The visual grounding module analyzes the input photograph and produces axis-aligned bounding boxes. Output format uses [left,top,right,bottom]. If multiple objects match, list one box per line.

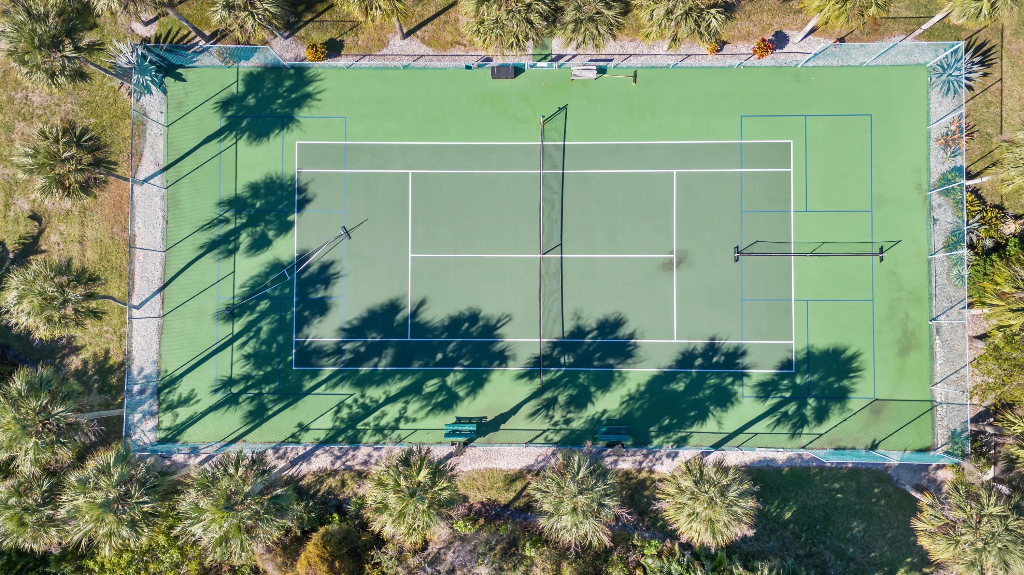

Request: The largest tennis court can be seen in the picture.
[157,61,938,453]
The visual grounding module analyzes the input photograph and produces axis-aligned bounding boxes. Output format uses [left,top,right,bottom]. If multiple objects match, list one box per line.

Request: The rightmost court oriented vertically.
[742,115,874,400]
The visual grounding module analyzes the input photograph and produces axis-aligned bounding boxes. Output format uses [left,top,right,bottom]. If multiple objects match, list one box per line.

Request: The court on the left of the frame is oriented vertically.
[216,117,346,395]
